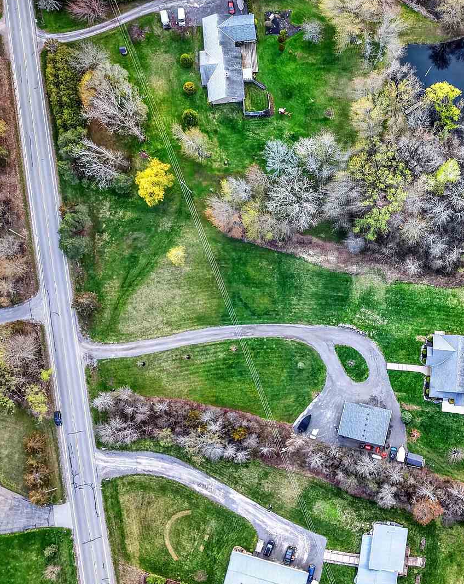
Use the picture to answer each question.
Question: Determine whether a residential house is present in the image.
Yes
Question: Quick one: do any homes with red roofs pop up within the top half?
No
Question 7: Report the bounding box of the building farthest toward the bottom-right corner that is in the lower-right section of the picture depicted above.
[356,524,408,584]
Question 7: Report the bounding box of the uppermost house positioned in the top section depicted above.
[199,13,257,105]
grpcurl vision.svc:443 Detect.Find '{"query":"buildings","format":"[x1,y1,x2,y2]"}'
[426,336,464,406]
[338,402,392,445]
[224,551,309,584]
[199,13,257,105]
[356,524,408,584]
